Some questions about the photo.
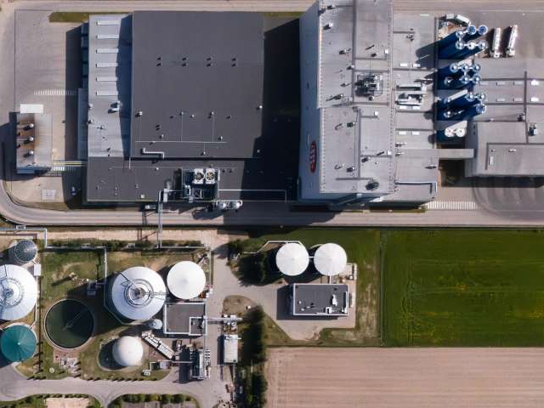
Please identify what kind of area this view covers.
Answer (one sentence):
This looks like an industrial area.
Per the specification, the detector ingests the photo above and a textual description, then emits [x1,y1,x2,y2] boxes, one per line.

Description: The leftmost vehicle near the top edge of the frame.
[449,12,472,24]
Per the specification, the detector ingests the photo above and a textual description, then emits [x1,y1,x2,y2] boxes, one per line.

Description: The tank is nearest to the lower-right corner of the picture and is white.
[308,243,347,277]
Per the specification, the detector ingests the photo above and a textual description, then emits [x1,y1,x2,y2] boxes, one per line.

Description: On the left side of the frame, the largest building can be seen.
[131,11,264,162]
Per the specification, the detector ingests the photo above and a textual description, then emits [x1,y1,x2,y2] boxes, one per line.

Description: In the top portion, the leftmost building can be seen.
[17,104,52,175]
